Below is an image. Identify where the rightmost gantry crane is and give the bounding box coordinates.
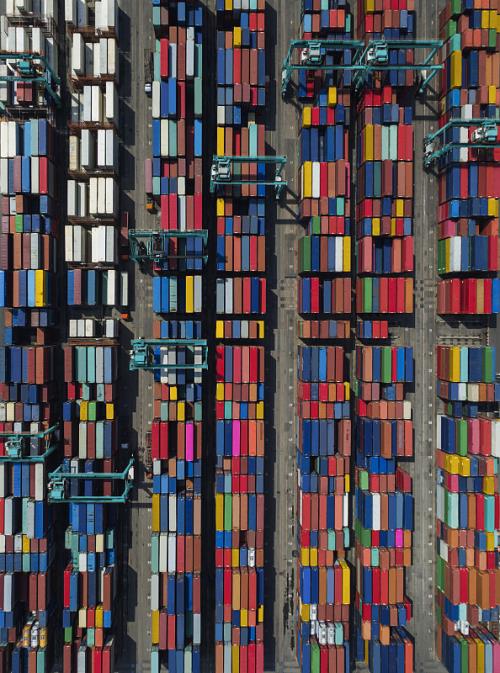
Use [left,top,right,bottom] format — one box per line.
[422,120,500,170]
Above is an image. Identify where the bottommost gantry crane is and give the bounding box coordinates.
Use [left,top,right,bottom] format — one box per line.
[43,455,139,500]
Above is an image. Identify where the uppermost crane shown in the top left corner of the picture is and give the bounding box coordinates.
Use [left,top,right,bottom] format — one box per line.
[0,53,64,108]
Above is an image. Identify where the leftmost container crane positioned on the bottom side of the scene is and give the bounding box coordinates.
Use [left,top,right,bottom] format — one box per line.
[0,419,64,461]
